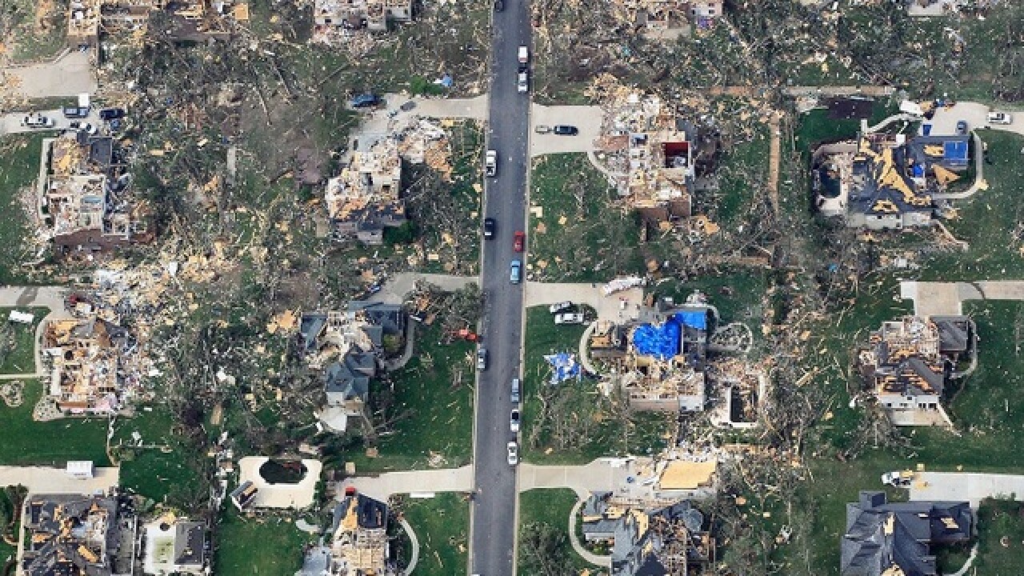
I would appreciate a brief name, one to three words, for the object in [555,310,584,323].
vehicle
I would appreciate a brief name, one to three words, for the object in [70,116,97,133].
car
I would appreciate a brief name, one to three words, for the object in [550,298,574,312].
car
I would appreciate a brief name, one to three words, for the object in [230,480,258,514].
shed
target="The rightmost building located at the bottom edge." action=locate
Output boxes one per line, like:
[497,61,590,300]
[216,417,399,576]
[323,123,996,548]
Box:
[840,490,970,576]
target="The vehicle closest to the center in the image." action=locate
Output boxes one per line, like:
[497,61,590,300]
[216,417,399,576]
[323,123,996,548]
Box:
[510,259,522,282]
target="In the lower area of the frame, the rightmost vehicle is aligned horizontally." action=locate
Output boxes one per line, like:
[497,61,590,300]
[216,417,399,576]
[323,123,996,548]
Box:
[882,470,914,485]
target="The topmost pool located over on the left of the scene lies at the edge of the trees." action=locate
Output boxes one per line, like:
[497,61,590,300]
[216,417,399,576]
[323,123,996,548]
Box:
[258,459,308,485]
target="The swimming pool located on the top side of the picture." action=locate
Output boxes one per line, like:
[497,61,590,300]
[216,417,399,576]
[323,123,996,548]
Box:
[818,160,841,198]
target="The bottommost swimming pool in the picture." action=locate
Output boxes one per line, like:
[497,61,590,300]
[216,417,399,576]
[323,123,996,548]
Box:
[152,535,175,565]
